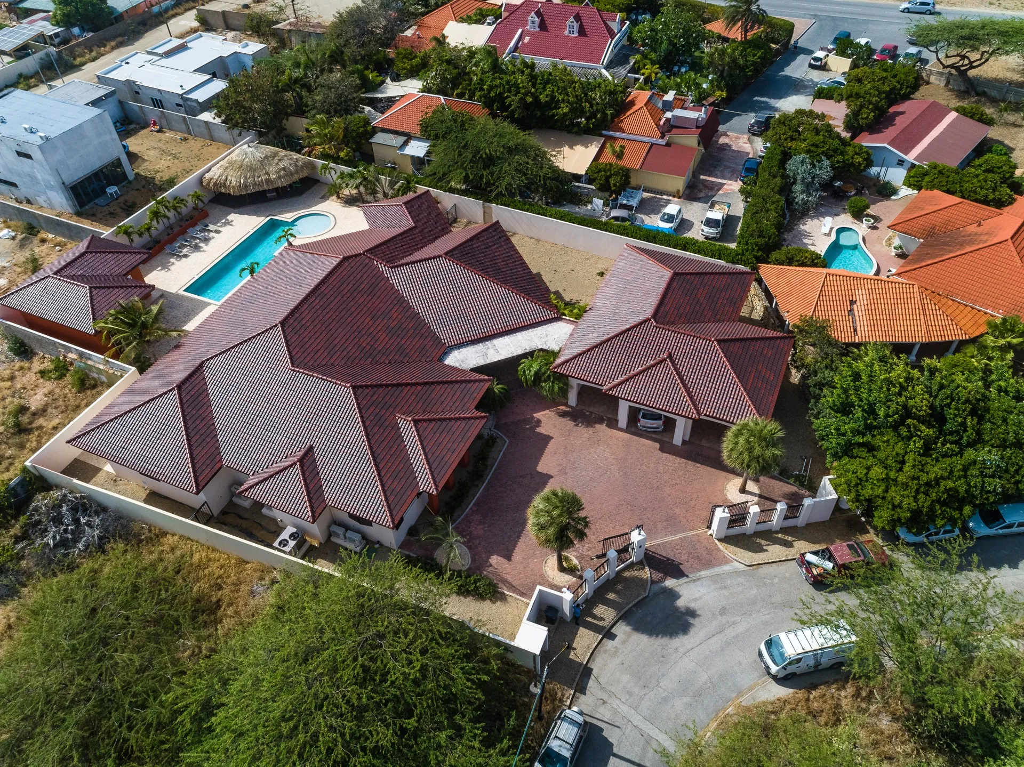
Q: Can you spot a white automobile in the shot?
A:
Yes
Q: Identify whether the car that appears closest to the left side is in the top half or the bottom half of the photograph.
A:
bottom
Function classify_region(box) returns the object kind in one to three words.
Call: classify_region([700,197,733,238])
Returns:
truck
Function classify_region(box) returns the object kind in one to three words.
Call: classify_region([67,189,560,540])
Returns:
house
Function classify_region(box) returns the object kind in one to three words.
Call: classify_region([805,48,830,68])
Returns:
car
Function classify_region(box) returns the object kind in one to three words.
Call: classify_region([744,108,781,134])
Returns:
car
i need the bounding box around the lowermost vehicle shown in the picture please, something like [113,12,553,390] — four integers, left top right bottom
[528,708,589,767]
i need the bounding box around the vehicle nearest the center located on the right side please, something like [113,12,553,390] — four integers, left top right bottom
[637,409,668,432]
